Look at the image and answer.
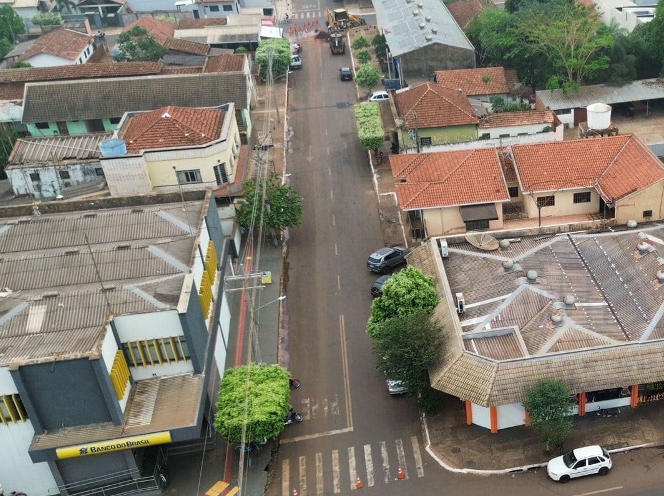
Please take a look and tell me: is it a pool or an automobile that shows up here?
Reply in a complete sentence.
There is an automobile in the scene.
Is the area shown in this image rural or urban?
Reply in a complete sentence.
This place is urban.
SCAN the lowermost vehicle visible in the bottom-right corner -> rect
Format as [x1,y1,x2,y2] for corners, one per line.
[547,442,616,482]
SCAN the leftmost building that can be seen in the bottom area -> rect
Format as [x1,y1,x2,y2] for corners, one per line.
[0,186,237,496]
